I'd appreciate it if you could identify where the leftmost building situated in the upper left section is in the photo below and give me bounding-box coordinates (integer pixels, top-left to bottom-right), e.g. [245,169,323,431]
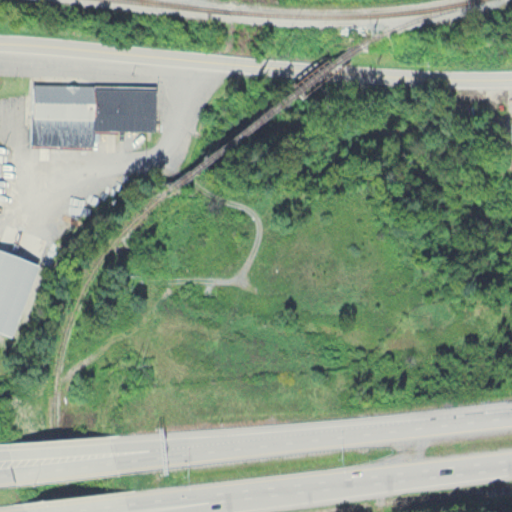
[34,84,97,148]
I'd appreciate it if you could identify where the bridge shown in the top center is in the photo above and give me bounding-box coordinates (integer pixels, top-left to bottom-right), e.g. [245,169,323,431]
[170,42,369,189]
